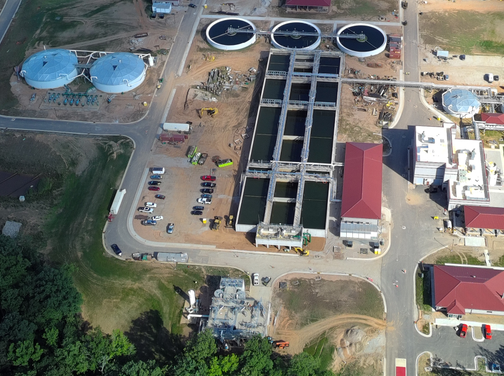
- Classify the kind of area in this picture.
industrial area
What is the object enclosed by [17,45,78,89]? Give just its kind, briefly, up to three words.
storage tank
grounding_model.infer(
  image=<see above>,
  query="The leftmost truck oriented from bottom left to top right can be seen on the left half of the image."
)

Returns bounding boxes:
[100,182,130,226]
